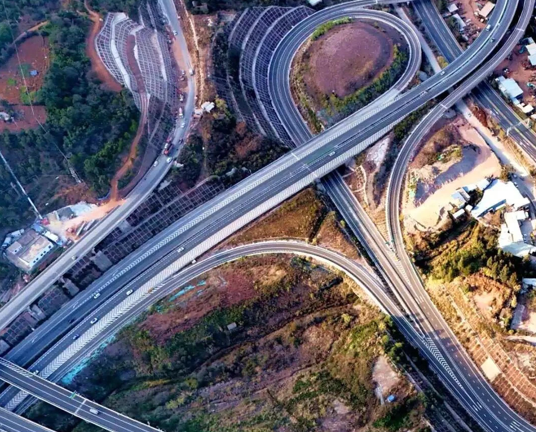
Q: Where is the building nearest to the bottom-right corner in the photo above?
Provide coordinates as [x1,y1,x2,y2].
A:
[502,243,536,263]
